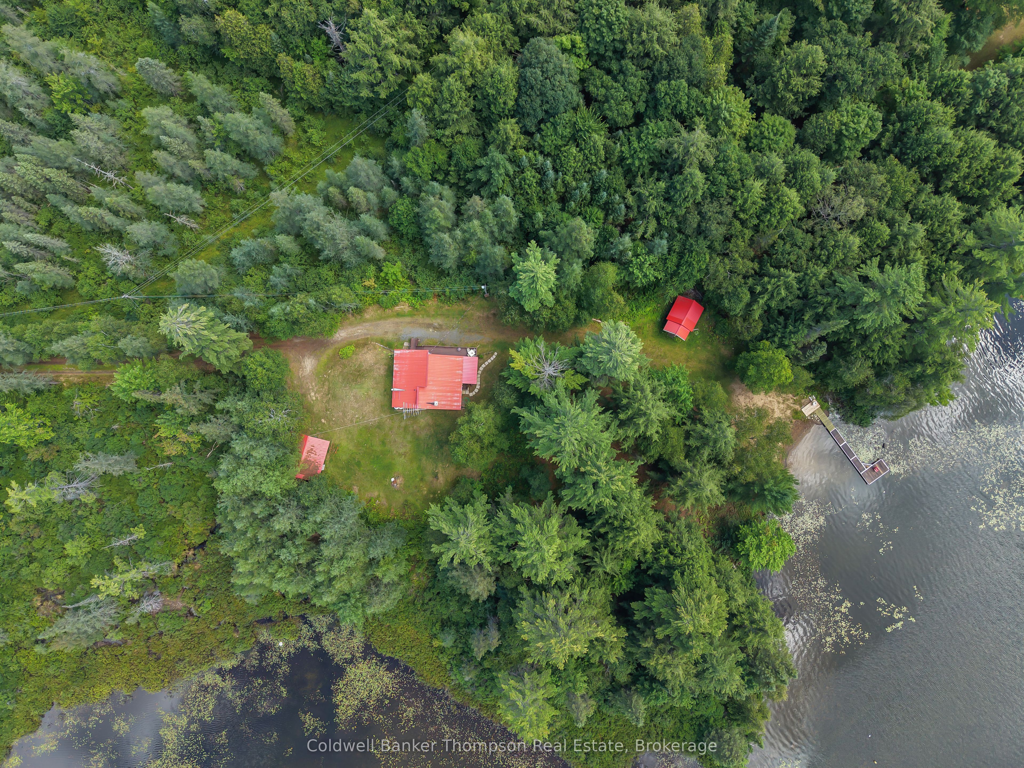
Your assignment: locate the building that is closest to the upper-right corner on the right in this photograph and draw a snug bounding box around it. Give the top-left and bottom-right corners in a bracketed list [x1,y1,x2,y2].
[661,297,704,341]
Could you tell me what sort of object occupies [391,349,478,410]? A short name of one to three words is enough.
house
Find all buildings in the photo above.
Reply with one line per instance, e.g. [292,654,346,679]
[293,436,331,483]
[661,297,704,341]
[391,349,478,410]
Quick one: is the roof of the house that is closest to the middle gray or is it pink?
pink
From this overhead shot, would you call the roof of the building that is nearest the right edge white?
No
